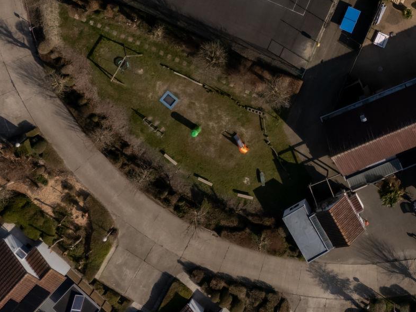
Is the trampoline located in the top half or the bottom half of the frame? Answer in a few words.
top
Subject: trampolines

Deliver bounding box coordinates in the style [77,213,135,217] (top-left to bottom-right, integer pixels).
[159,90,179,110]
